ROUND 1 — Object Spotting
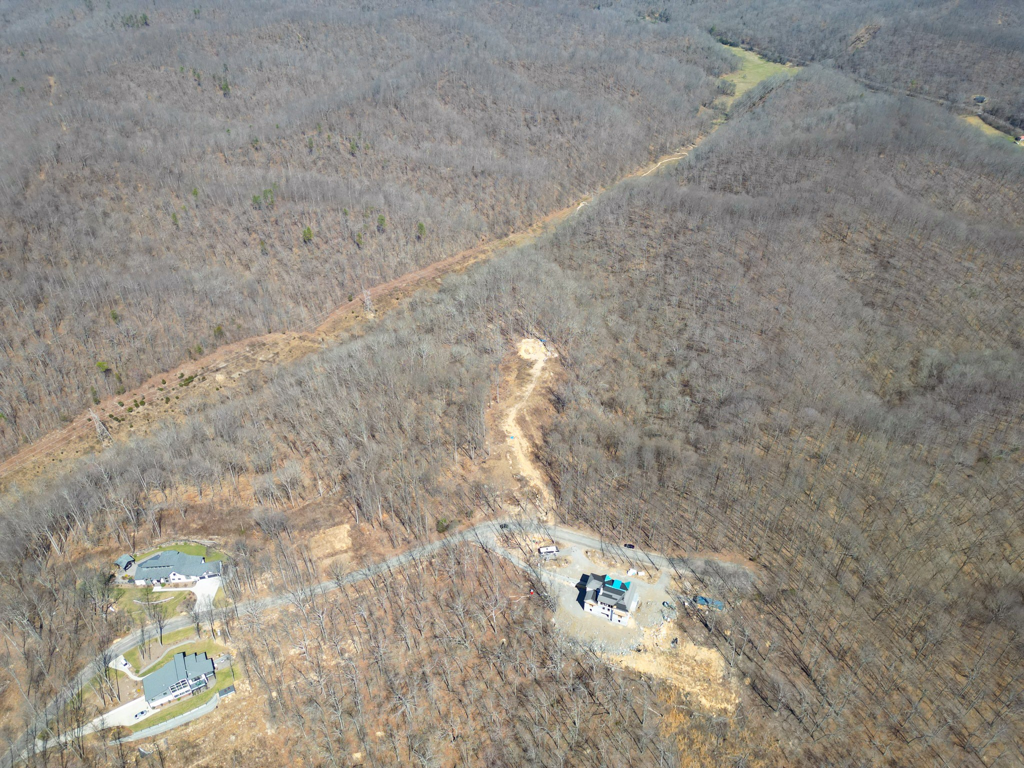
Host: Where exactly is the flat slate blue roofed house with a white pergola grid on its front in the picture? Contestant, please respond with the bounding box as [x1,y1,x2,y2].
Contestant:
[144,654,218,714]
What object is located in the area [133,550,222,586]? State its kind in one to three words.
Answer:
house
